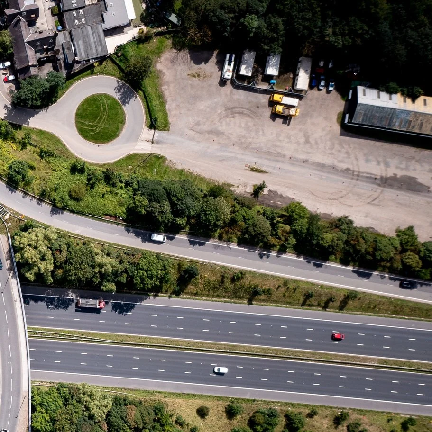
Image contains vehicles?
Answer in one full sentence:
Yes, I can see a vehicle in this picture.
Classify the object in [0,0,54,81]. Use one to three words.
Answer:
house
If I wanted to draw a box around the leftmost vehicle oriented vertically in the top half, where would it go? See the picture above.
[219,52,233,81]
